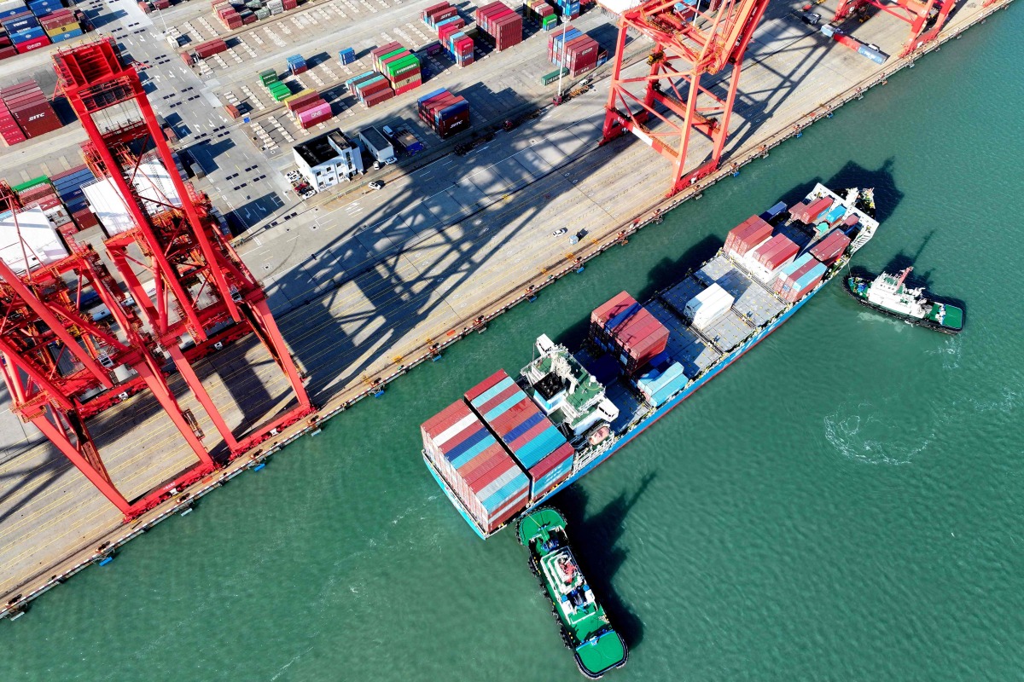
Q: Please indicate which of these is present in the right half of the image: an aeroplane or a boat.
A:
boat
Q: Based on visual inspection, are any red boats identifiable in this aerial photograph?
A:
No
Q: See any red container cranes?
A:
Yes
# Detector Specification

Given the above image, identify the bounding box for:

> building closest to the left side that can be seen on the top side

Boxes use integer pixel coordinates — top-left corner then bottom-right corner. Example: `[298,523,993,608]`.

[293,129,364,191]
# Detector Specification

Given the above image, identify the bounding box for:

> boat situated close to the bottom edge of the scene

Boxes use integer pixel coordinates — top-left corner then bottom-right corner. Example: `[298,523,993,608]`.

[514,511,635,682]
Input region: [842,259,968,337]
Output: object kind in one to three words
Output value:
boat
